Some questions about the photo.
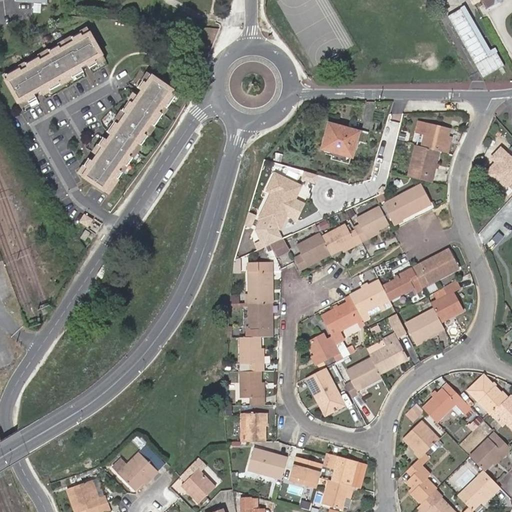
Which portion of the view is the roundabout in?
top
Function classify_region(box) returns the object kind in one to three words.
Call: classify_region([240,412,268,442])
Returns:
house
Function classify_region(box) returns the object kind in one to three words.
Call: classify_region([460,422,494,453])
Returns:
building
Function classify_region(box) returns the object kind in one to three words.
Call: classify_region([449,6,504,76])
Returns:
shed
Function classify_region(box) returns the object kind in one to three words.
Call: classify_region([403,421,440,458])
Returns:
house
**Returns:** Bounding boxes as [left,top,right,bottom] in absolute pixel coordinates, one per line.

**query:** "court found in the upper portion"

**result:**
[277,0,344,66]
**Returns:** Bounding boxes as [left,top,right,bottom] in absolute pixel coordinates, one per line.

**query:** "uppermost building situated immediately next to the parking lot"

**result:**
[3,24,104,104]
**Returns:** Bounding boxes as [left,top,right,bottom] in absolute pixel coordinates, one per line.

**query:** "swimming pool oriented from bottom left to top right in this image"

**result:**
[455,470,475,489]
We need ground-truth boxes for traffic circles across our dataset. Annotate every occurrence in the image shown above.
[224,56,283,114]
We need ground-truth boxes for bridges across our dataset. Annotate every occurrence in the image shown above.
[0,428,32,472]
